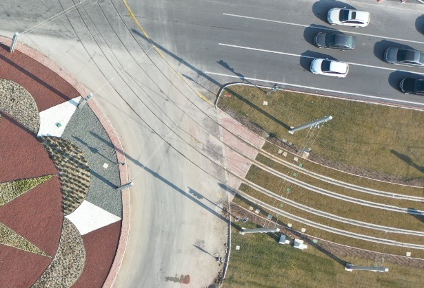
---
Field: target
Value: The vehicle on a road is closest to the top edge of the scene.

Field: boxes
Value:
[325,5,370,29]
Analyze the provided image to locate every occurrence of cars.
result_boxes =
[325,5,370,29]
[398,76,424,97]
[313,30,356,52]
[382,46,424,69]
[308,56,350,78]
